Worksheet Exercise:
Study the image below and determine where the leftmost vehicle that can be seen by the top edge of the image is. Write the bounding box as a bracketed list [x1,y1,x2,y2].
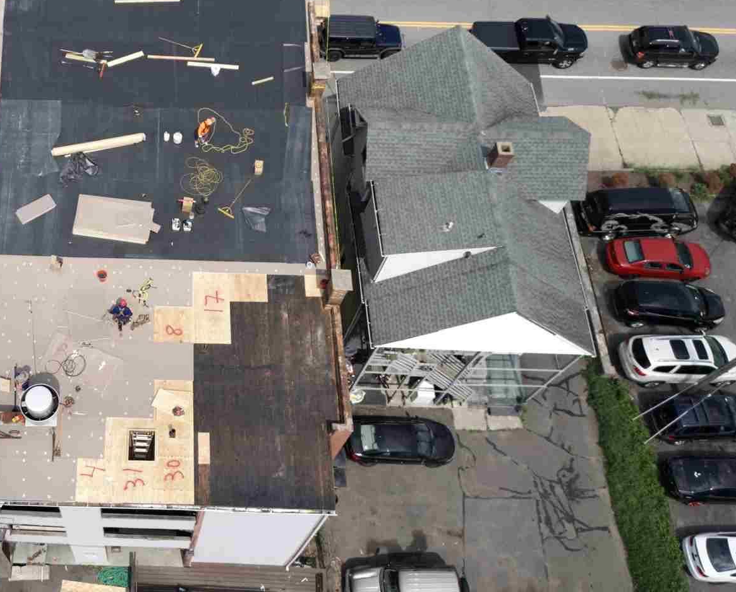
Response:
[471,15,588,67]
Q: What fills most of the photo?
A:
buildings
